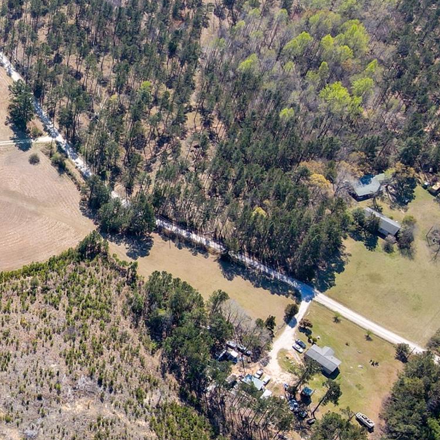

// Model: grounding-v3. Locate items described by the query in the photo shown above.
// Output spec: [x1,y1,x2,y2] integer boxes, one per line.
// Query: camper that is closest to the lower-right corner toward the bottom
[353,413,374,429]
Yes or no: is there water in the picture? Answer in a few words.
No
